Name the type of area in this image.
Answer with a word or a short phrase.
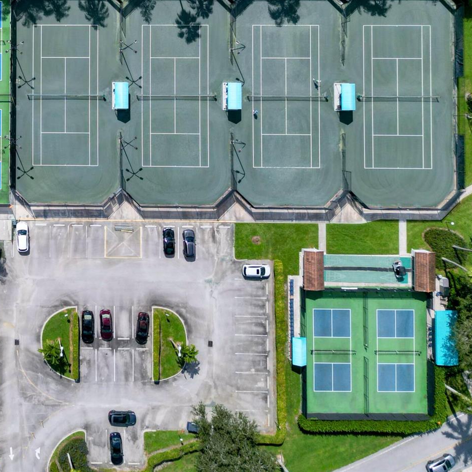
sports ground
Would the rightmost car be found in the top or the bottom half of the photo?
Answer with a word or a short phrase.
bottom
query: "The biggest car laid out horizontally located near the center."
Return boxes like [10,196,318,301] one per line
[240,264,270,279]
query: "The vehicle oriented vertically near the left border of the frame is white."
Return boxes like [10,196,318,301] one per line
[15,222,29,252]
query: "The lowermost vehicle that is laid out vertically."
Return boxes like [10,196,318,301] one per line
[109,431,125,463]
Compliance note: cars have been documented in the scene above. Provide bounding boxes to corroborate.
[240,264,270,279]
[136,312,150,343]
[109,431,125,463]
[99,309,113,339]
[424,450,456,472]
[182,228,197,259]
[106,410,137,427]
[162,227,176,256]
[81,311,95,341]
[15,222,29,252]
